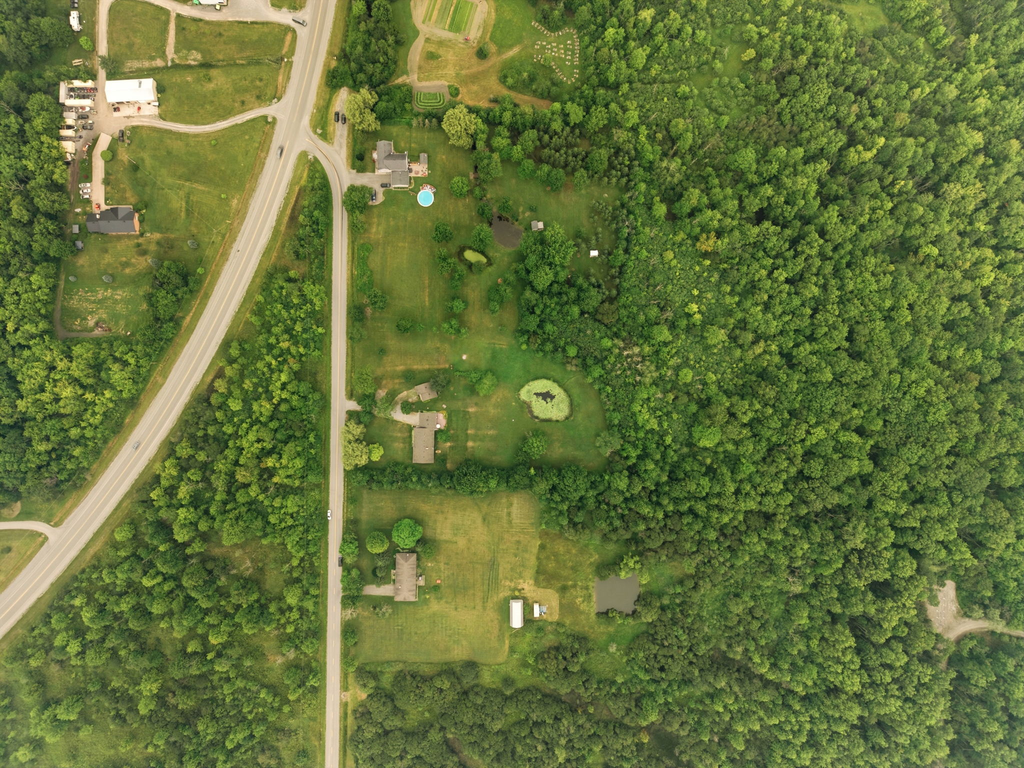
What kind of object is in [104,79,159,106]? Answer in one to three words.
building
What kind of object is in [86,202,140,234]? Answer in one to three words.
house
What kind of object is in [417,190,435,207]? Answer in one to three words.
swimming pool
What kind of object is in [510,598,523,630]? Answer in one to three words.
barn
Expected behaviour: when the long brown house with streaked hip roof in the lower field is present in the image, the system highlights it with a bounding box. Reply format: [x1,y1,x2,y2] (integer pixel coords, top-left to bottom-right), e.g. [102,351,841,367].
[392,554,416,602]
